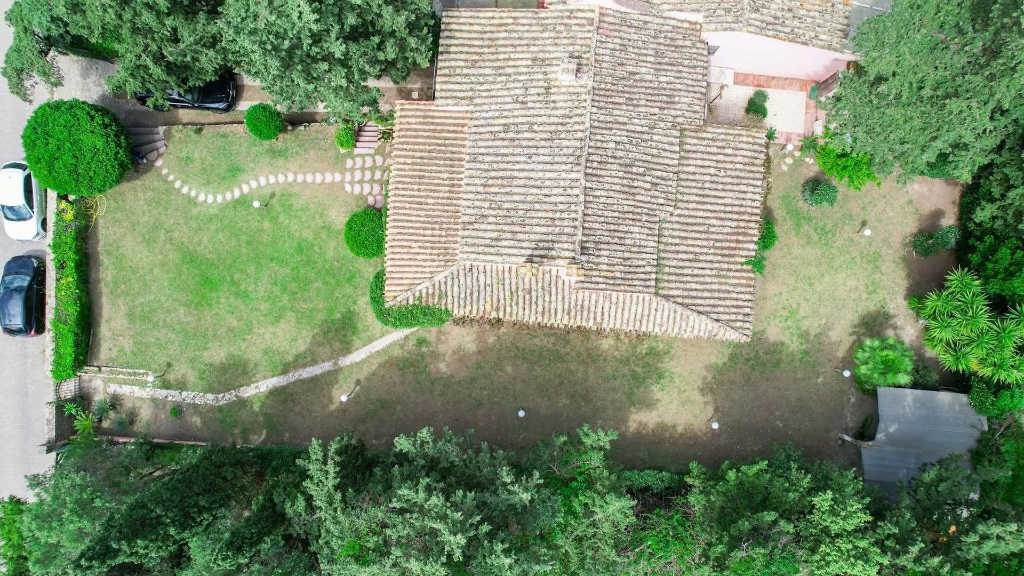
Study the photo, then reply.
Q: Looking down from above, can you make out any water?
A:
No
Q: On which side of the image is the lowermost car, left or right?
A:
left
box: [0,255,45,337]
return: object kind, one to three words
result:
car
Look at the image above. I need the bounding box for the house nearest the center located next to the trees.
[383,5,770,345]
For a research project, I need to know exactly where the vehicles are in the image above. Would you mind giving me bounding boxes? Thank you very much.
[0,161,48,241]
[135,73,239,116]
[0,255,45,337]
